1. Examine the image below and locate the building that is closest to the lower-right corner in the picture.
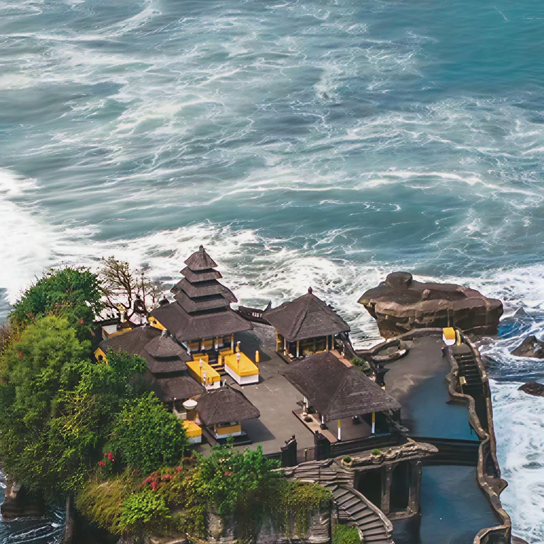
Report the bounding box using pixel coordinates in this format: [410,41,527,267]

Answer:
[278,349,405,459]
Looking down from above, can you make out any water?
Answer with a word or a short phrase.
Yes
